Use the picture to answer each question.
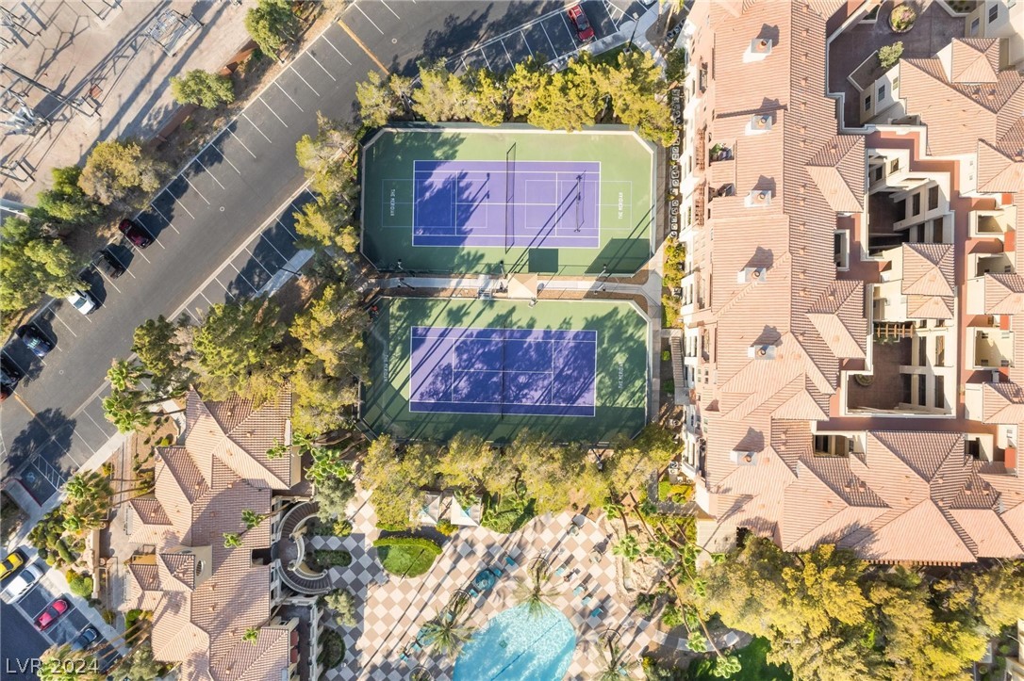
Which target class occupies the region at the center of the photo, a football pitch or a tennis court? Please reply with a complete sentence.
What appears at the center of the photo is a tennis court.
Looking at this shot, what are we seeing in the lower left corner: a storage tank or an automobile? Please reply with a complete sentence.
The feature located in the lower left corner is an automobile.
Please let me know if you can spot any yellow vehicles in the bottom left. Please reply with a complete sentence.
Yes, there is a yellow vehicle in the bottom left.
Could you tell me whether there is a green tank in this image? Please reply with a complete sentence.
No, there is no green tank in the image.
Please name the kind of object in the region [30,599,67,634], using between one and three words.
car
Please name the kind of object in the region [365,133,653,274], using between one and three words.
tennis court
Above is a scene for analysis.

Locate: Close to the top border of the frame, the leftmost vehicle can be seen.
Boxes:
[568,0,597,41]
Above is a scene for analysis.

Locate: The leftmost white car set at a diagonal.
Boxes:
[0,566,45,609]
